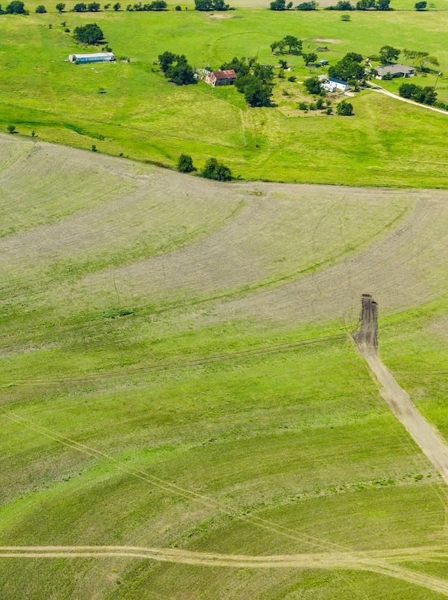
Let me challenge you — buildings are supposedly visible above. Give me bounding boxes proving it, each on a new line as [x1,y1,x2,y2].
[73,52,115,63]
[363,63,419,79]
[206,68,237,85]
[324,78,351,91]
